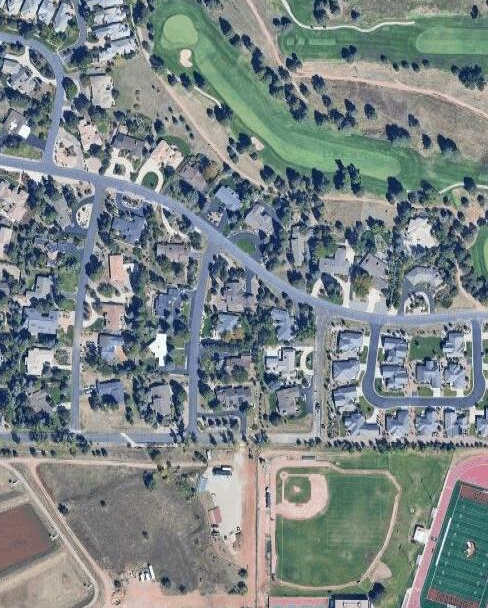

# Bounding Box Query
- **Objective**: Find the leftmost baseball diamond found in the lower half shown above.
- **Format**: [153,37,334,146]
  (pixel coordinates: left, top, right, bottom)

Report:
[272,460,403,591]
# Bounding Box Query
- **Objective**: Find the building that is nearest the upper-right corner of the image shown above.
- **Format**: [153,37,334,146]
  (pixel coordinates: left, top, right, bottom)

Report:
[405,217,438,251]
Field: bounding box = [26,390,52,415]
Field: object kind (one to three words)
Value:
house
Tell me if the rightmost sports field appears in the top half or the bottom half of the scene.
bottom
